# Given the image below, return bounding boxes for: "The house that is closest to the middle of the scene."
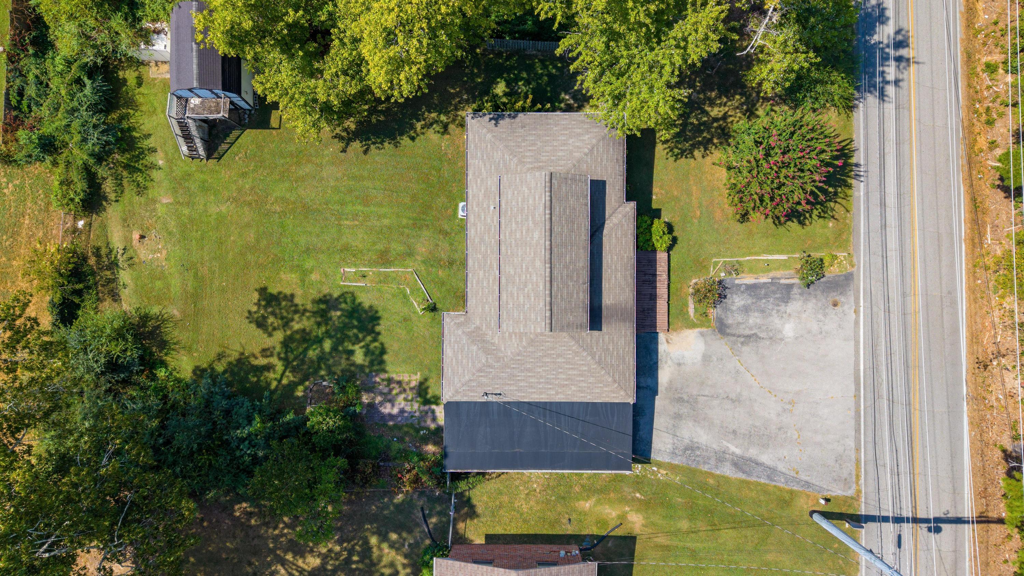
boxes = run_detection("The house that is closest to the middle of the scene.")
[441,112,637,473]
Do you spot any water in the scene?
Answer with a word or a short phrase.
No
